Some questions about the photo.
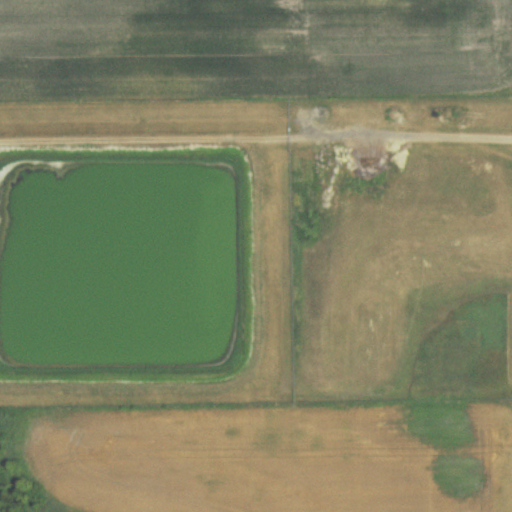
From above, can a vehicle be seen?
No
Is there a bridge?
No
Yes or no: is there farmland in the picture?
Yes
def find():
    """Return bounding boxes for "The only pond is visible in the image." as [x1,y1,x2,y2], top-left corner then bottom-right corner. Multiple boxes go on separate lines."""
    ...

[0,162,238,367]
